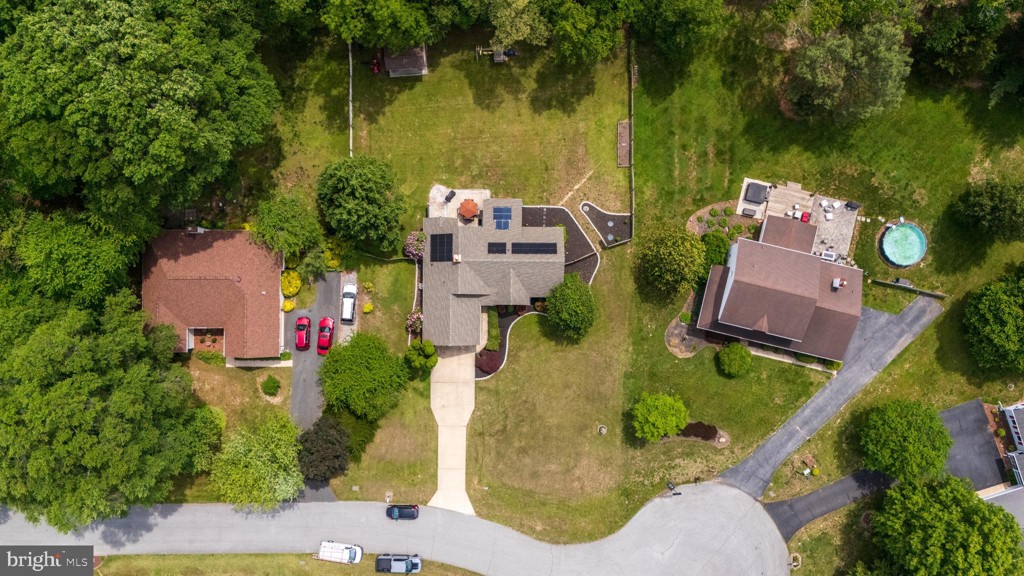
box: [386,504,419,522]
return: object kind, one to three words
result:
car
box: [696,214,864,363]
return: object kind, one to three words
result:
house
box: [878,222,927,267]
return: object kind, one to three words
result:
swimming pool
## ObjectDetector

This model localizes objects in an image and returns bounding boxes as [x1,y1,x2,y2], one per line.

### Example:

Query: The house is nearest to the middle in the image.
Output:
[422,198,565,346]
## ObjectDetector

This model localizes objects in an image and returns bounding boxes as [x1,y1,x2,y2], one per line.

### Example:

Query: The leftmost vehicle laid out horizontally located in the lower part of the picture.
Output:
[315,540,362,564]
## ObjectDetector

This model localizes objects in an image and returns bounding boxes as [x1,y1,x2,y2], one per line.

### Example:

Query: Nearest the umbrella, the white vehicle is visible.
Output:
[341,284,360,325]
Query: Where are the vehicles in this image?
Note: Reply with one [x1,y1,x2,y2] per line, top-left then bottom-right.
[374,554,421,576]
[294,315,313,350]
[386,504,419,522]
[341,284,360,325]
[317,316,335,355]
[315,540,362,564]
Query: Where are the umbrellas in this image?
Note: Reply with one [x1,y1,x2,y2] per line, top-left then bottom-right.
[460,199,477,219]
